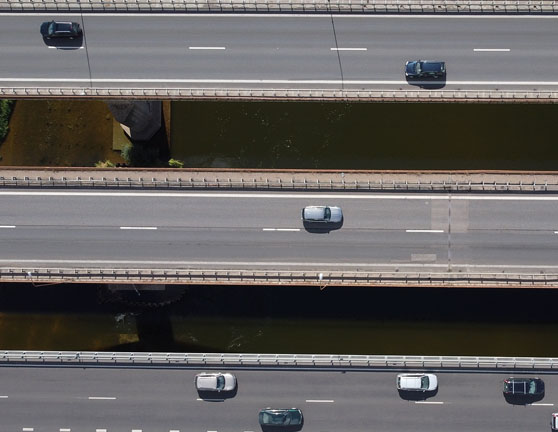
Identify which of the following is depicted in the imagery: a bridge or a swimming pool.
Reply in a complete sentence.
Visible in the photo is a bridge.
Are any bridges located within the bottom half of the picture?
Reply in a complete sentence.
Yes, I can see a bridge within the bottom half of the picture.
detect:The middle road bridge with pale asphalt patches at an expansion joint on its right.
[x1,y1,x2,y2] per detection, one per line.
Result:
[0,166,558,289]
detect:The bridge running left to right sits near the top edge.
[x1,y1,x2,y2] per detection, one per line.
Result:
[0,0,558,141]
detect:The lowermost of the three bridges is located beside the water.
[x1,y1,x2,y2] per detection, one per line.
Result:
[0,349,558,432]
